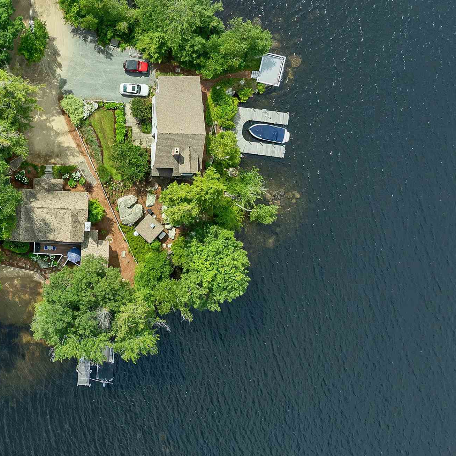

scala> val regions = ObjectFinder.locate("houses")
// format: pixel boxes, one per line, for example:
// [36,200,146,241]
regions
[13,177,107,271]
[150,75,206,177]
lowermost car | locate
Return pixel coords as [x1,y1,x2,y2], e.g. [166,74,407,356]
[119,84,149,97]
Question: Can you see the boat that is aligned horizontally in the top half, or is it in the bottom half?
top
